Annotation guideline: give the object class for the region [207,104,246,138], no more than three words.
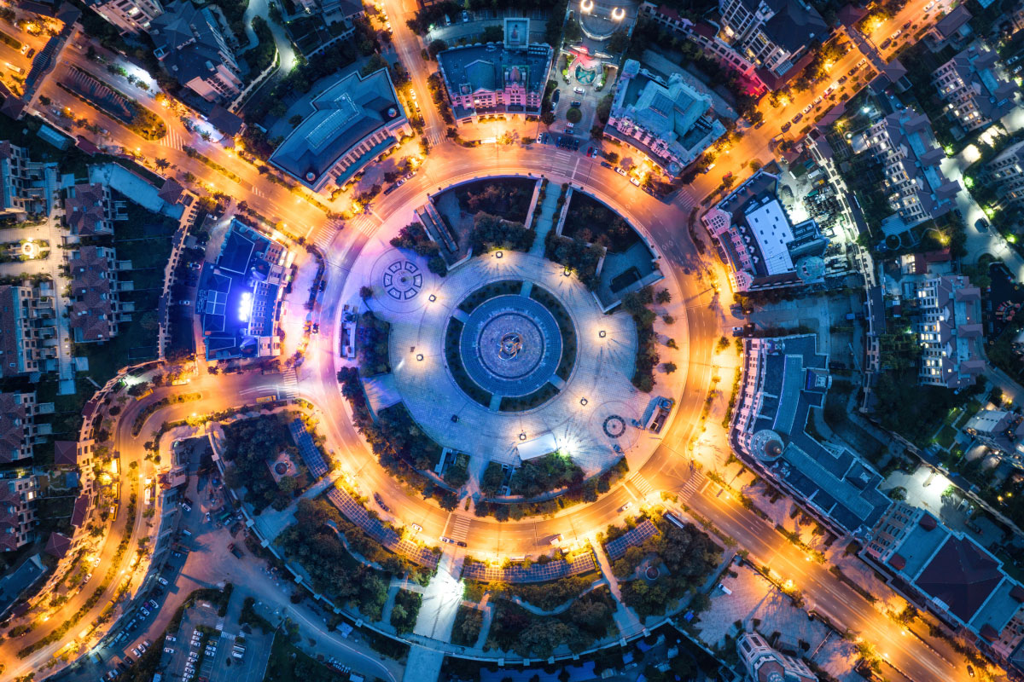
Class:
building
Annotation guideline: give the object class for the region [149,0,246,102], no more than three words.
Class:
building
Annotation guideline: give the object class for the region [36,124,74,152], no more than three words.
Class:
greenhouse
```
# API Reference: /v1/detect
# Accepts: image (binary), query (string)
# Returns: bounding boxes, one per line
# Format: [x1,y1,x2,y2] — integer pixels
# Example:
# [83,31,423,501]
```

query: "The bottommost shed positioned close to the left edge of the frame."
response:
[0,554,54,620]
